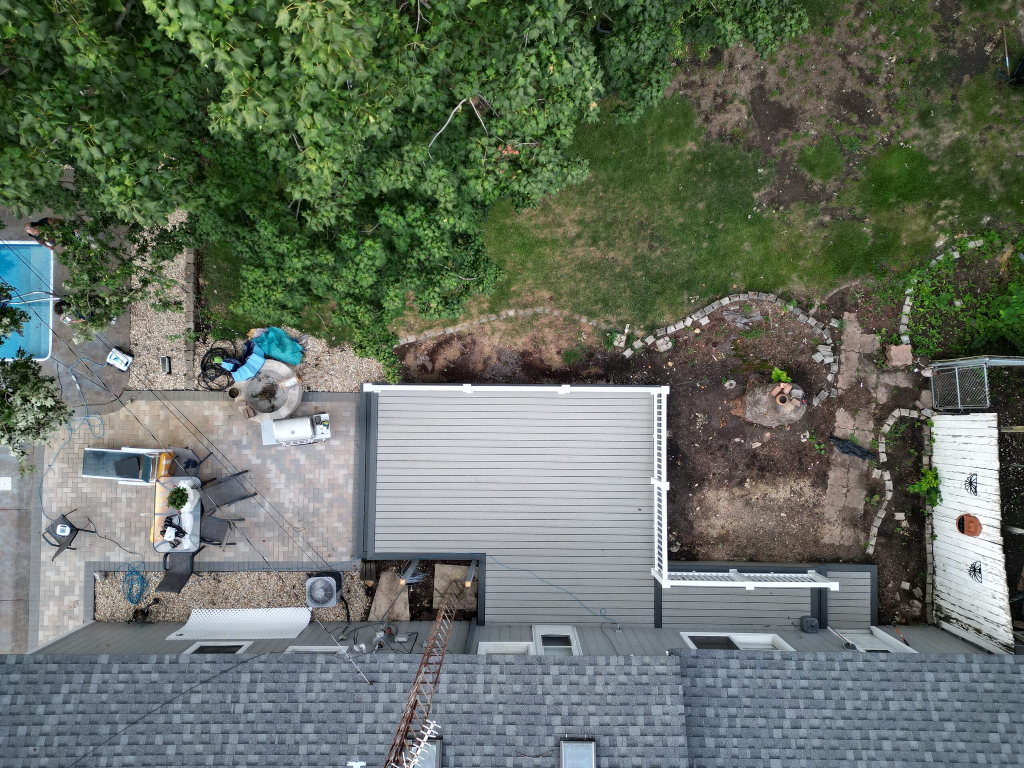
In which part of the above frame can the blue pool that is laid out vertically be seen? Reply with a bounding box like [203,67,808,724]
[0,239,54,361]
